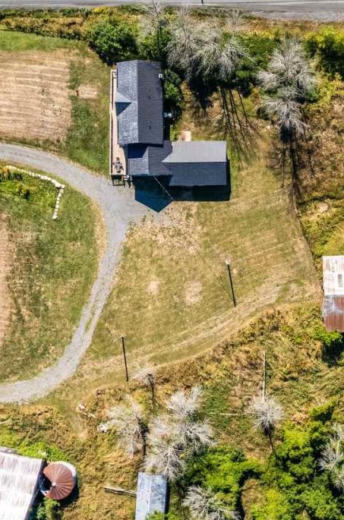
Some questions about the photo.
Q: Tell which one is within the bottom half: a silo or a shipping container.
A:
silo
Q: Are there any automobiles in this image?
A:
No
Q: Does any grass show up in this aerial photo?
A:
Yes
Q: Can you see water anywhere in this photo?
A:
No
